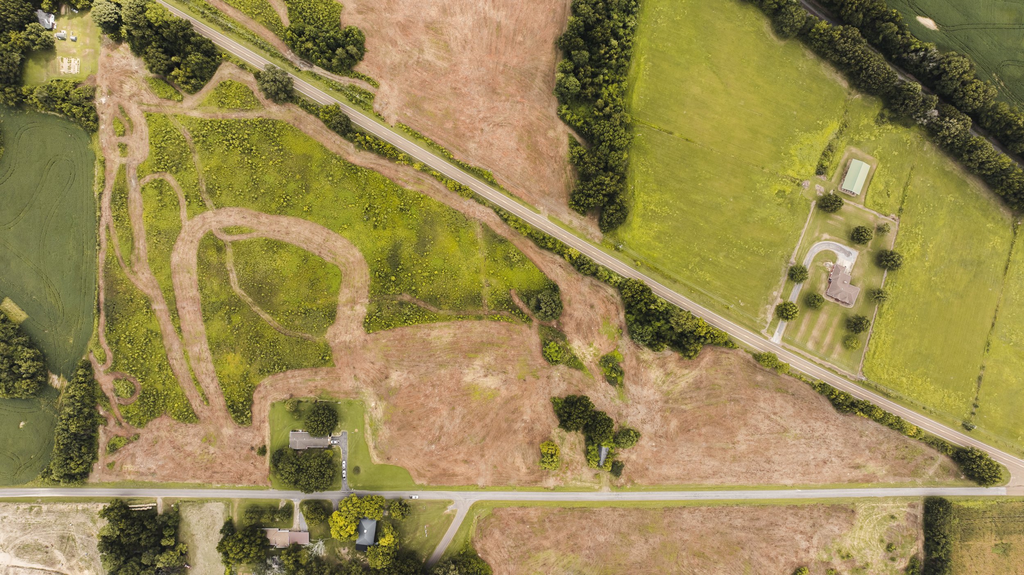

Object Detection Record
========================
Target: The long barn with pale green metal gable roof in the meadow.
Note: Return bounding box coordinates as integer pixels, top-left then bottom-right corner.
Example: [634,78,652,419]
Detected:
[841,159,870,195]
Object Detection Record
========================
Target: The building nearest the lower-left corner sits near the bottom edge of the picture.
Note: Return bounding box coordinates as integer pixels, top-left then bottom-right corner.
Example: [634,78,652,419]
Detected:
[260,528,290,549]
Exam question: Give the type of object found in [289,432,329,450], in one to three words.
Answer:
house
